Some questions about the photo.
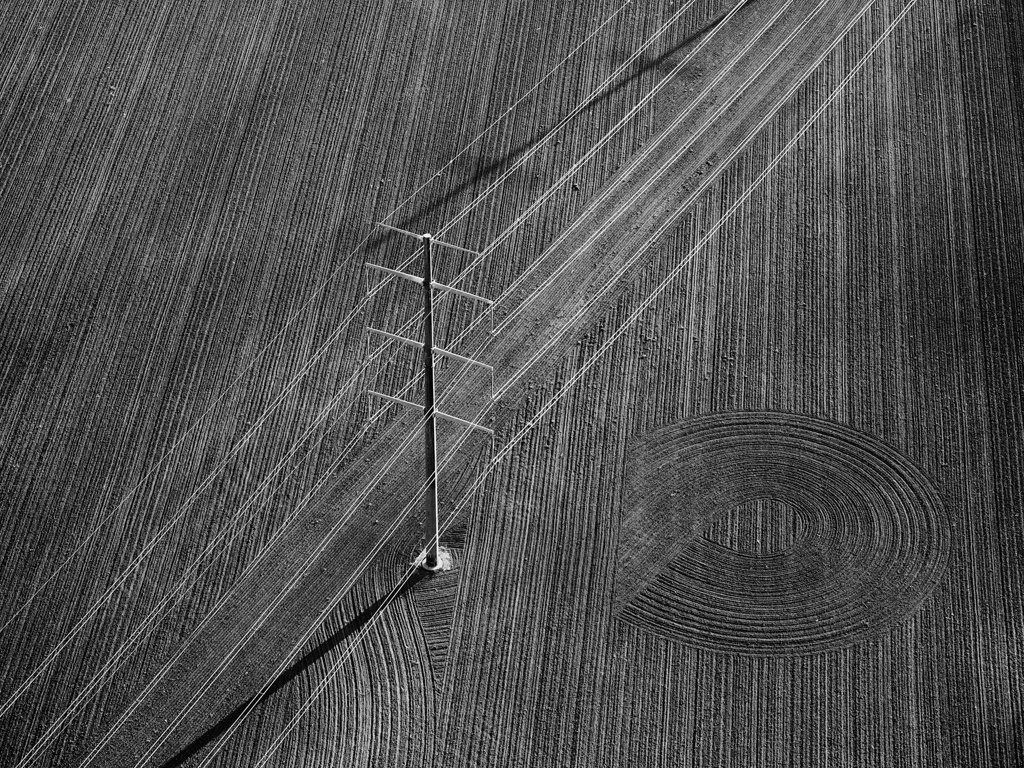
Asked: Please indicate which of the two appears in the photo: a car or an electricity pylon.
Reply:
electricity pylon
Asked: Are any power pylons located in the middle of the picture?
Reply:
Yes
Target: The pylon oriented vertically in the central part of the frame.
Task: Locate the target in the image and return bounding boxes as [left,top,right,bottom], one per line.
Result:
[365,224,497,570]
